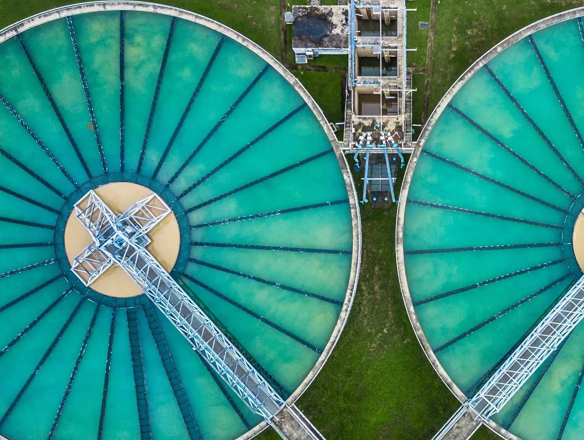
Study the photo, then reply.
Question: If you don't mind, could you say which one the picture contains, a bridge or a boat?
bridge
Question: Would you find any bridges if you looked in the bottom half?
Yes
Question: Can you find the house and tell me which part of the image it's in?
top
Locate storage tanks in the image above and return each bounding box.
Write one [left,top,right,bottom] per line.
[0,0,362,440]
[395,6,584,440]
